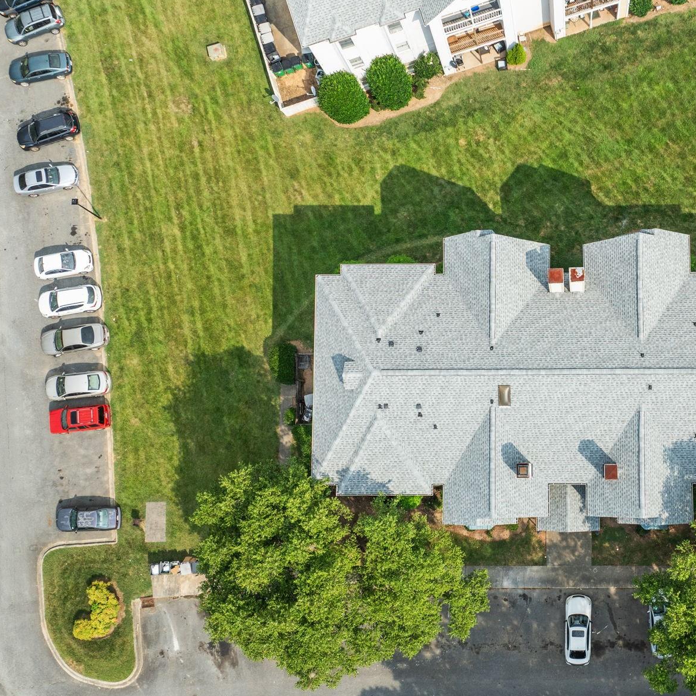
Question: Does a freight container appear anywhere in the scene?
No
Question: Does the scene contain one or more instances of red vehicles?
Yes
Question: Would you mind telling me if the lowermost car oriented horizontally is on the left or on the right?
left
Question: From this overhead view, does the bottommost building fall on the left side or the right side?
right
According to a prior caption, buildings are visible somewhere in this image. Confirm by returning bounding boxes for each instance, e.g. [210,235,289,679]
[311,231,696,534]
[285,0,633,85]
